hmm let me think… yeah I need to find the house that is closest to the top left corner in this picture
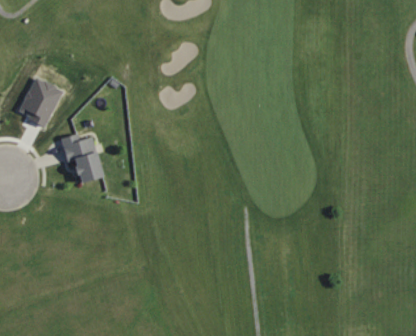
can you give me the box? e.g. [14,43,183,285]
[21,79,64,132]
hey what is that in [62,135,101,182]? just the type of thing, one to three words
house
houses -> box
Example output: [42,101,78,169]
[62,135,101,182]
[21,79,64,132]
